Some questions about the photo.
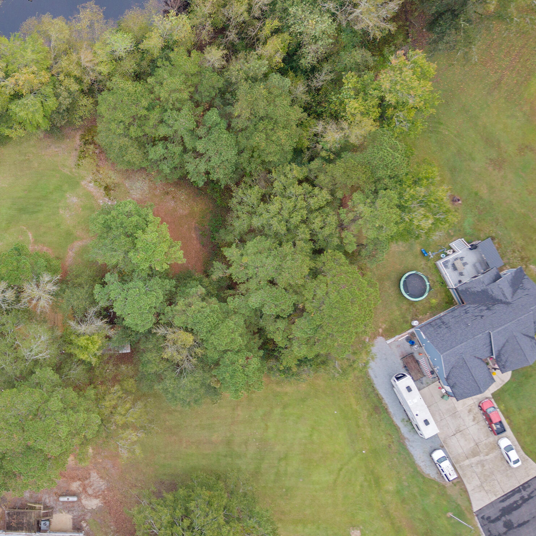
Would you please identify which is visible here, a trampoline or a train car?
trampoline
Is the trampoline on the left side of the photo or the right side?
right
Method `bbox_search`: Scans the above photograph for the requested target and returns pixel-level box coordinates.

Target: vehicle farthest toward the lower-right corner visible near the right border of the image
[496,435,521,468]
